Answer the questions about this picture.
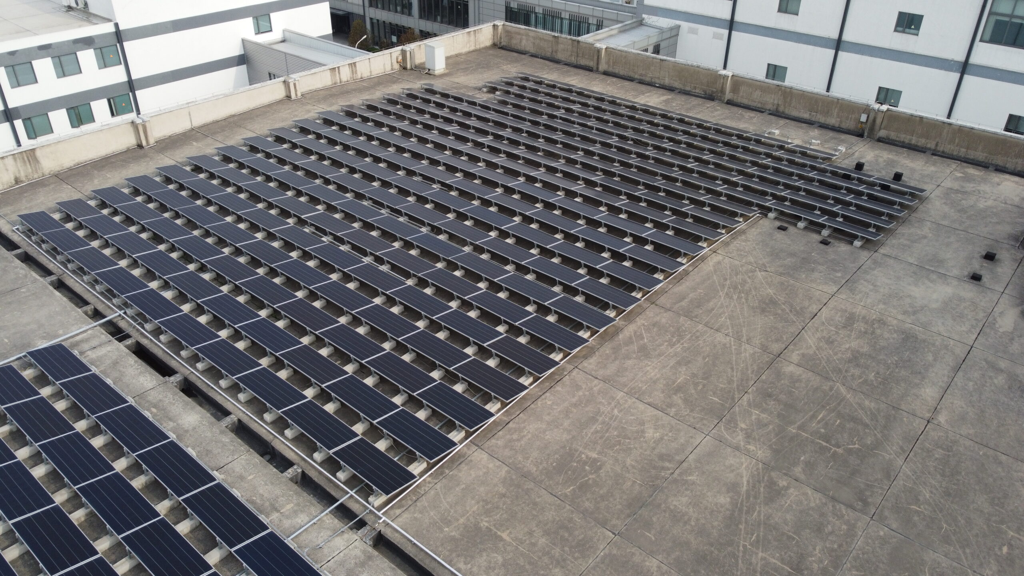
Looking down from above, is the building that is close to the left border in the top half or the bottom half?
top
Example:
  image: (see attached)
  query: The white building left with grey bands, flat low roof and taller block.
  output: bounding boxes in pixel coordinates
[0,0,333,150]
